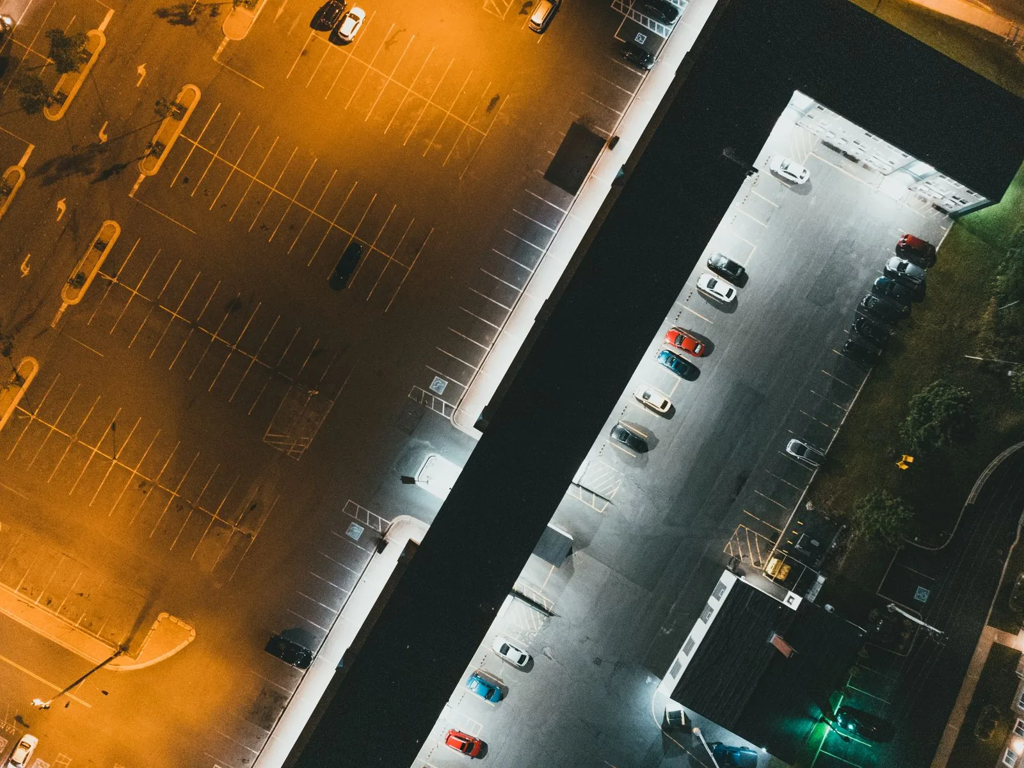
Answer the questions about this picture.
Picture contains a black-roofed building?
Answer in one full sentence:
Yes, this view includes a black-roofed building.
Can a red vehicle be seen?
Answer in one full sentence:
Yes, looking at the shot, I can spot a red vehicle.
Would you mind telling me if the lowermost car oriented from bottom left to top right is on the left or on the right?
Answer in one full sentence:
The lowermost car oriented from bottom left to top right appears in the left half of the scene.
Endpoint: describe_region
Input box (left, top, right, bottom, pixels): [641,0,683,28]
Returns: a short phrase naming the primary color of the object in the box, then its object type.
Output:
black car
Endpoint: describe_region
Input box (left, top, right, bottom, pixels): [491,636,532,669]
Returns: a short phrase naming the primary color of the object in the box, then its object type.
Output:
white car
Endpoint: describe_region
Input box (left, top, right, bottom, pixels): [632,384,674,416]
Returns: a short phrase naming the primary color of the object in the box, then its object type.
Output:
white car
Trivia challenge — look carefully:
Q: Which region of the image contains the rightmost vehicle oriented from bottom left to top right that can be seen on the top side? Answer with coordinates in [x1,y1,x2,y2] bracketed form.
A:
[529,0,562,35]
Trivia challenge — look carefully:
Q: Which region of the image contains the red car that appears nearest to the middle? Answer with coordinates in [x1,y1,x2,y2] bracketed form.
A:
[664,327,706,359]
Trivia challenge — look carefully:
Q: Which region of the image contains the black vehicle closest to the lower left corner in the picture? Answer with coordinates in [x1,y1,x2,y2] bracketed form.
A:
[264,631,315,670]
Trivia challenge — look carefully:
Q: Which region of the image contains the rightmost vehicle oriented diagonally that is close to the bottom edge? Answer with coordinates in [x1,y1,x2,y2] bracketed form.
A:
[838,705,887,744]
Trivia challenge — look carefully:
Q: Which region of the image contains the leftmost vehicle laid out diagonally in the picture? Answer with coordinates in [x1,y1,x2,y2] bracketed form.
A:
[4,732,37,768]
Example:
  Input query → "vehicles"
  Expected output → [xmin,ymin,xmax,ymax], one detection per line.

[4,732,37,768]
[315,0,348,31]
[873,275,917,307]
[769,153,812,185]
[786,436,828,468]
[838,705,887,744]
[632,384,674,416]
[491,636,532,669]
[657,348,699,380]
[884,254,928,286]
[466,671,504,701]
[529,0,562,35]
[444,726,484,759]
[264,631,315,670]
[711,741,762,768]
[329,241,366,288]
[0,56,9,80]
[335,4,366,44]
[664,327,706,359]
[608,422,650,454]
[894,232,938,265]
[705,251,748,283]
[616,39,658,73]
[641,0,683,28]
[695,272,738,304]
